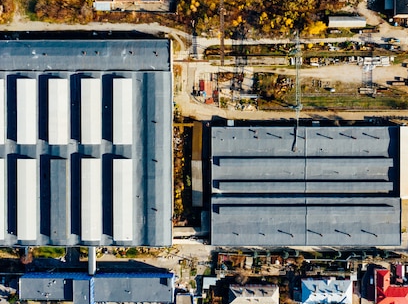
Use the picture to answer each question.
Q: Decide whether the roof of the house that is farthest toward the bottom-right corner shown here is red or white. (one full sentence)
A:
The color of the roof of the house that is farthest toward the bottom-right corner is red.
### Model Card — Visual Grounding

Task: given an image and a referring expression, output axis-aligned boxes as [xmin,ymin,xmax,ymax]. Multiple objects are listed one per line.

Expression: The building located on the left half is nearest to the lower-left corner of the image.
[19,273,76,300]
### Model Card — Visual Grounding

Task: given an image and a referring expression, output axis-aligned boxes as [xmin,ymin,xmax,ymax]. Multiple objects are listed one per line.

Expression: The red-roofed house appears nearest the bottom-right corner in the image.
[372,267,408,304]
